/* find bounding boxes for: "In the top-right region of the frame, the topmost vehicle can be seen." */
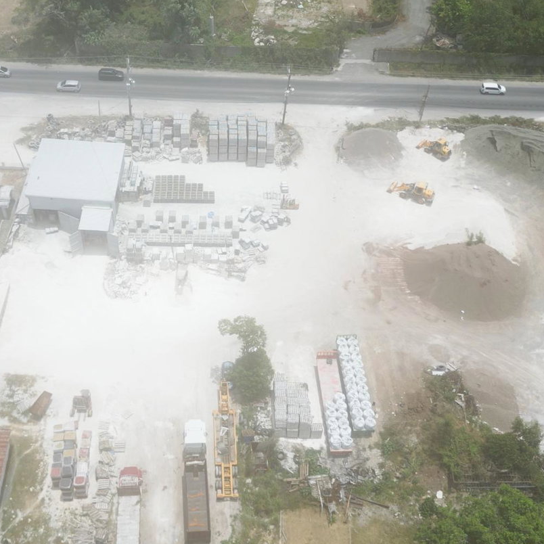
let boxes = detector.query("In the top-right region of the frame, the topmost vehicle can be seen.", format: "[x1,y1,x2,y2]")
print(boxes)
[480,82,506,96]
